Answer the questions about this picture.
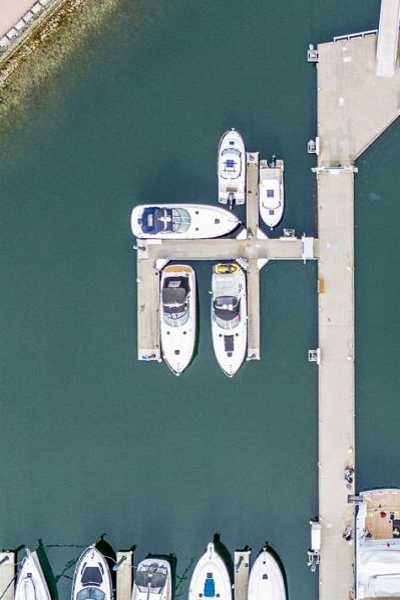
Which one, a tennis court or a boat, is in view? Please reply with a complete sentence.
There is a boat in the scene.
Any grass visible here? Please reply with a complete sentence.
No, no grass is visible.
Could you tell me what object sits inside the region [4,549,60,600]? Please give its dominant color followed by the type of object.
white boat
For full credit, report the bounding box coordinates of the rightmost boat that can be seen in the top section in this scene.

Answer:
[258,157,284,232]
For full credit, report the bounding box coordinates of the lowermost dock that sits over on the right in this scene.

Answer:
[234,550,252,600]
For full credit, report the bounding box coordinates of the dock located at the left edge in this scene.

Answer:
[0,551,17,600]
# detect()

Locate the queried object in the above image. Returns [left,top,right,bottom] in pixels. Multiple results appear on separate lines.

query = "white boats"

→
[188,541,236,600]
[212,263,251,380]
[218,125,250,209]
[132,204,244,242]
[246,546,288,600]
[353,485,400,600]
[4,549,60,600]
[132,556,172,600]
[258,157,284,232]
[158,265,196,379]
